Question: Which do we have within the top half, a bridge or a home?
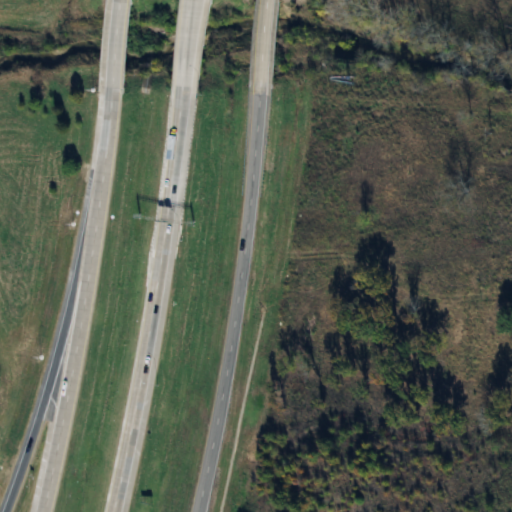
bridge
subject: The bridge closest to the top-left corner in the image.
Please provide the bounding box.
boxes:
[98,0,132,94]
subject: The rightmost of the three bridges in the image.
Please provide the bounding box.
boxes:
[246,0,280,100]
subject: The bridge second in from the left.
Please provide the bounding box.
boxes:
[170,0,212,94]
